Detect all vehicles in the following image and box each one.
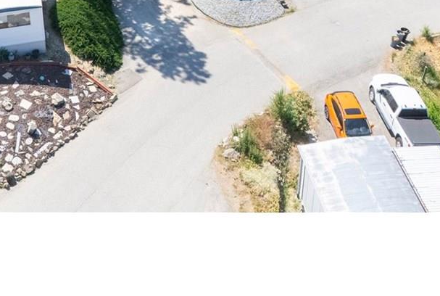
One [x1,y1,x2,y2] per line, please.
[378,70,440,152]
[323,82,379,147]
